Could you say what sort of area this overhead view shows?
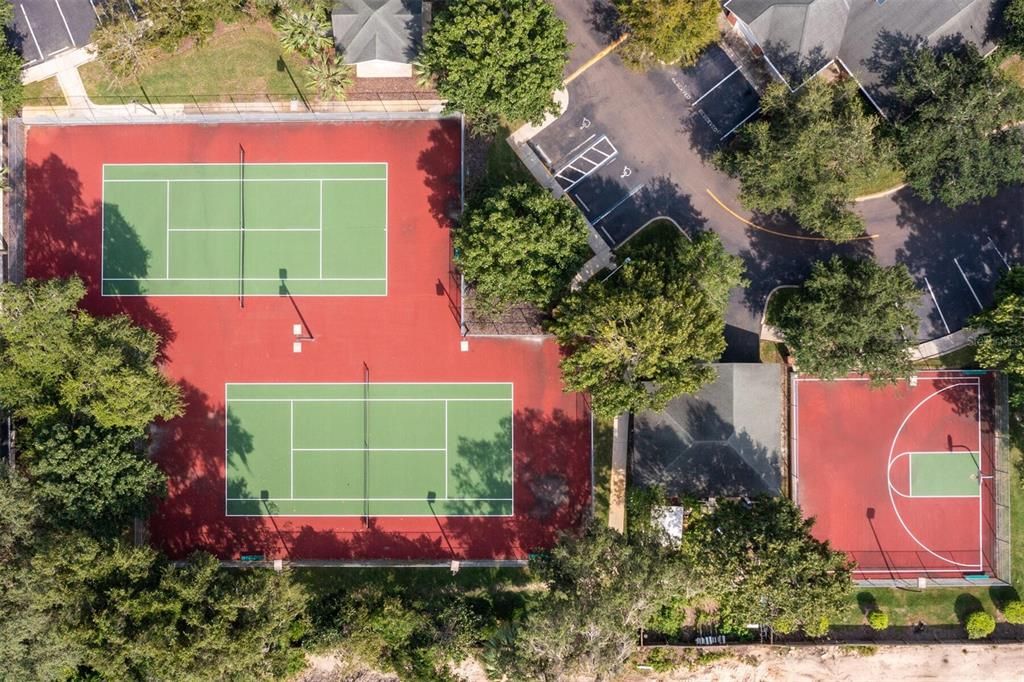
sports ground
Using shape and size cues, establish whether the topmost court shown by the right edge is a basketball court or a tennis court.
basketball court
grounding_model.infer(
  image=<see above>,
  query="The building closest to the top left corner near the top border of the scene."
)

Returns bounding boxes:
[331,0,422,76]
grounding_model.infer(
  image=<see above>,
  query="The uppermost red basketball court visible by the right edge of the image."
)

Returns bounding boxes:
[793,371,996,578]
